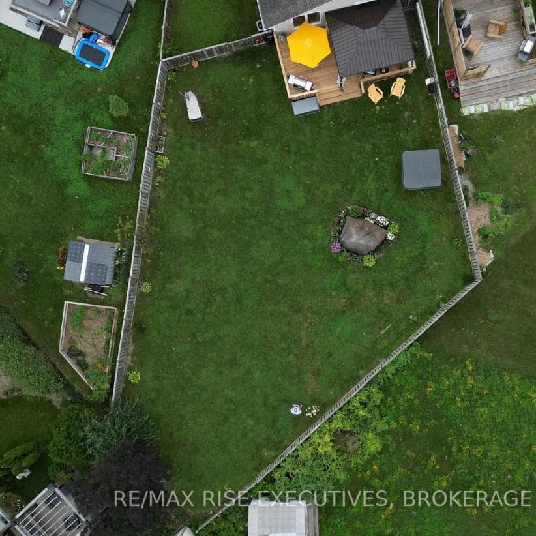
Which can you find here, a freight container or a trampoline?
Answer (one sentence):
I can see a trampoline in this picture.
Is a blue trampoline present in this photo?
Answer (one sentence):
Yes, the photo shows a blue trampoline.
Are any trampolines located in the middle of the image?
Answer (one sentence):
No, there's no trampoline to be seen in the middle of the image.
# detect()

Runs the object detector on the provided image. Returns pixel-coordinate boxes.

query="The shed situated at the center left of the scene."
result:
[64,242,123,285]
